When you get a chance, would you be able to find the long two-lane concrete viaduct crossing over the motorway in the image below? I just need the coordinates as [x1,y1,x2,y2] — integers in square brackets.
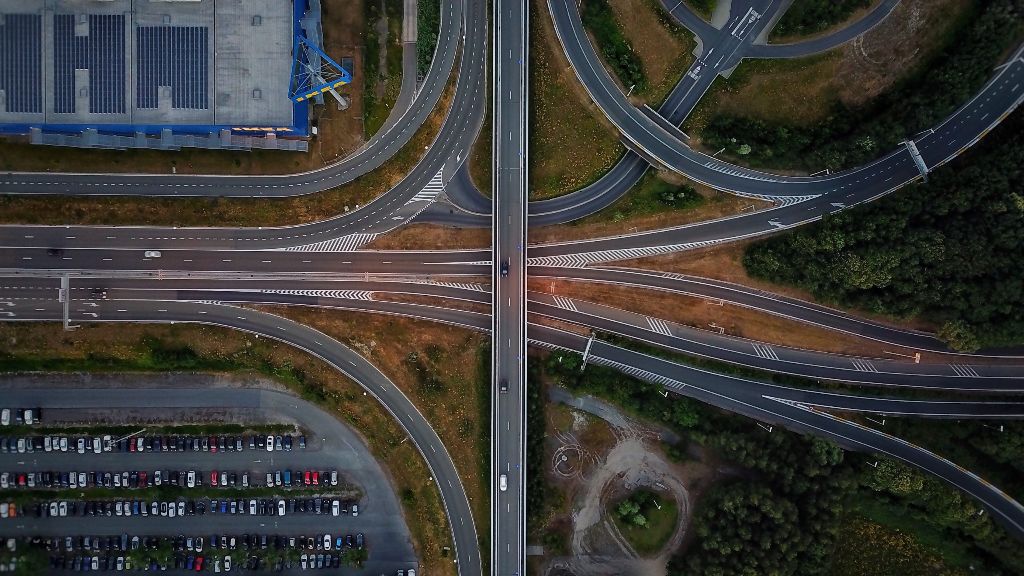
[491,0,528,576]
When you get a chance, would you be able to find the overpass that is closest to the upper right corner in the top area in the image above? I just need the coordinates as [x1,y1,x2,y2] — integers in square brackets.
[618,104,691,170]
